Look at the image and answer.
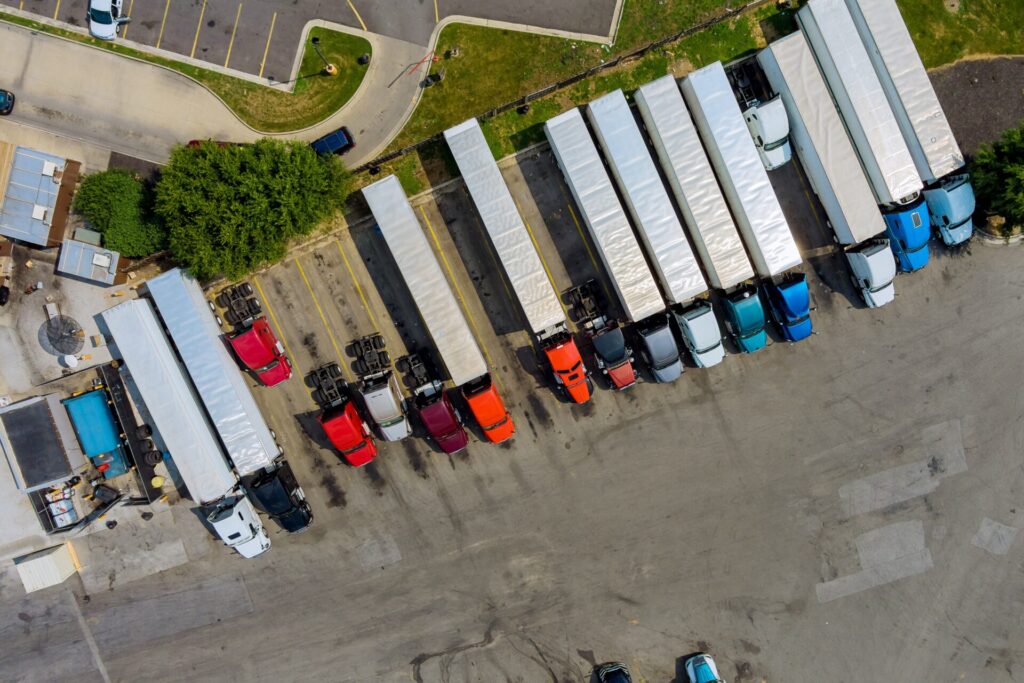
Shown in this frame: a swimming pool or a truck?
truck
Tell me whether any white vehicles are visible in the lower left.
Yes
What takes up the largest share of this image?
paved ground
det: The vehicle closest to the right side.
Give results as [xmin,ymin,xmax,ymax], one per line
[923,174,979,247]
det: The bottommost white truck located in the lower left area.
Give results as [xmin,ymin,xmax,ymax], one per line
[211,477,273,557]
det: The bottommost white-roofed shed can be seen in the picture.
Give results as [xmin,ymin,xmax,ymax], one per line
[16,541,81,593]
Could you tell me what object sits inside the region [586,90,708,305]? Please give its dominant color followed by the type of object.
white trailer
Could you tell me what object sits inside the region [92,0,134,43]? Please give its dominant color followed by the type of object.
white car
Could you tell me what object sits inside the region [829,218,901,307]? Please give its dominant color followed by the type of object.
white truck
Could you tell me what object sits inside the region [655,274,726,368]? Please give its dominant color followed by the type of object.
white truck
